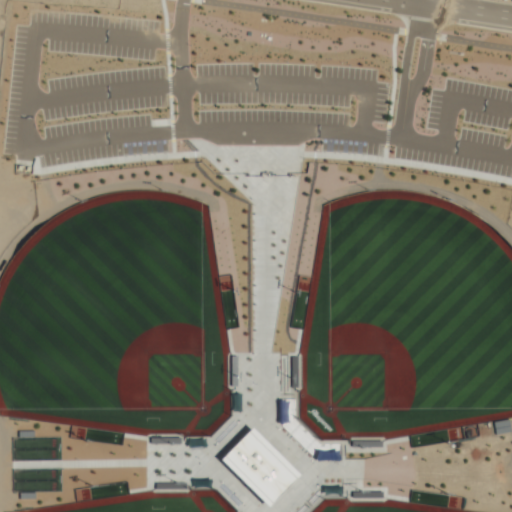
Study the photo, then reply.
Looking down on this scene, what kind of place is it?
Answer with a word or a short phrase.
sports ground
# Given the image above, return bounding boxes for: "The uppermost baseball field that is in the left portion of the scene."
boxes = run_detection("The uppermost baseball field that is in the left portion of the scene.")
[0,190,232,438]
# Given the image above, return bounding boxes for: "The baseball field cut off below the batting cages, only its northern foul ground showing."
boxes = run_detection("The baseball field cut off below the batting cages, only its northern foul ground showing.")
[8,490,230,512]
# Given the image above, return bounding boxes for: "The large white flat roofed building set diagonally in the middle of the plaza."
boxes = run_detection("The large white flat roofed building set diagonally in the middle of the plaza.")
[223,429,301,507]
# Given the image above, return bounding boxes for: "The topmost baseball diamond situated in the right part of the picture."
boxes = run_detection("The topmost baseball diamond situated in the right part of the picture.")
[302,190,512,440]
